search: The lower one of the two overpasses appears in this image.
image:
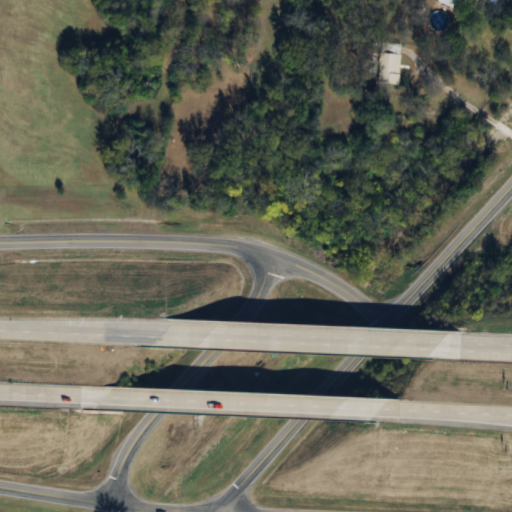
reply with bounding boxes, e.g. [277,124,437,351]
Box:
[74,386,408,424]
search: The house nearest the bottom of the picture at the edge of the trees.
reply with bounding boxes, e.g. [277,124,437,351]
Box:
[379,44,409,84]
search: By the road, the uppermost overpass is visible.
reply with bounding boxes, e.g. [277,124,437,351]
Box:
[158,319,466,360]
